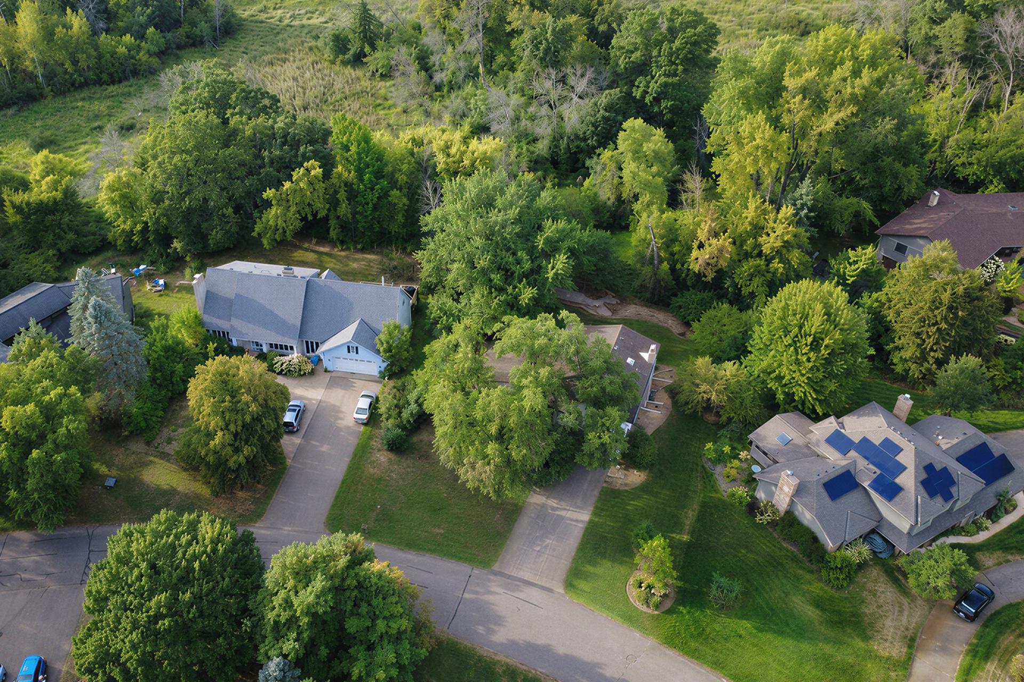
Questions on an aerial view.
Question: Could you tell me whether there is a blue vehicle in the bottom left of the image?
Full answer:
Yes, the scene does show a blue vehicle in the bottom left of the image.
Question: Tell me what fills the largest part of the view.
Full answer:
The scene is dominated by trees.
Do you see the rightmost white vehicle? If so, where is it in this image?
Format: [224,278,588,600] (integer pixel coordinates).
[352,390,374,423]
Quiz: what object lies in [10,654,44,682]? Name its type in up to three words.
car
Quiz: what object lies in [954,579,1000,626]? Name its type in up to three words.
car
